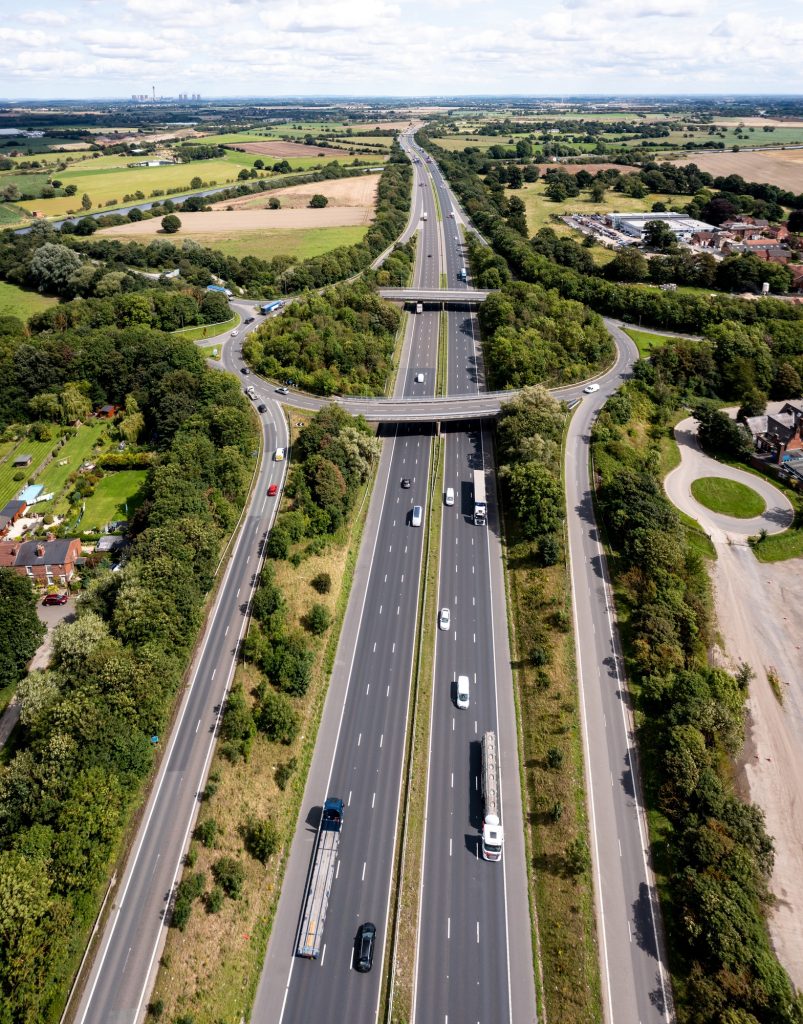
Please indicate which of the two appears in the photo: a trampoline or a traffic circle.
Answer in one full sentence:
Visible in the photo is a traffic circle.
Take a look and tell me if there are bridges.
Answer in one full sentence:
Yes, the frame does contain a bridge.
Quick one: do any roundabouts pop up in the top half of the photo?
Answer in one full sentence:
Yes, a roundabout appears in the top half of the photo.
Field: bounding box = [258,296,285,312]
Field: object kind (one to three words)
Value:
vehicle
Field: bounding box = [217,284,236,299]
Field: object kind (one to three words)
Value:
vehicle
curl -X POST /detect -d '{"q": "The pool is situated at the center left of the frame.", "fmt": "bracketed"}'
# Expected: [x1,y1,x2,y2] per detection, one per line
[16,482,43,500]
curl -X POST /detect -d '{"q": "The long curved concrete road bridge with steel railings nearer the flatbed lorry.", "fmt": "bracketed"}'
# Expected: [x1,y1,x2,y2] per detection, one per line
[355,392,507,439]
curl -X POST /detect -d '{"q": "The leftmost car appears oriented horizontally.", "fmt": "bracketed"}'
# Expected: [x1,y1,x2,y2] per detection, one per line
[41,594,65,606]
